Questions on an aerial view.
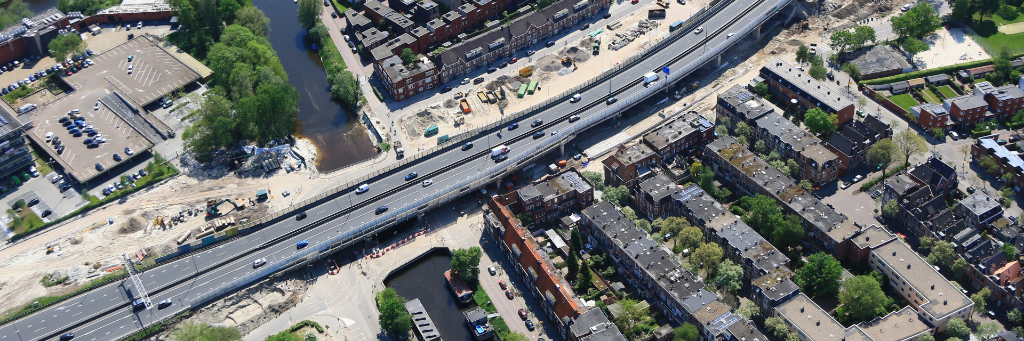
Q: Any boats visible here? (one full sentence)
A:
Yes, the image includes a boat.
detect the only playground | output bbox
[915,27,989,65]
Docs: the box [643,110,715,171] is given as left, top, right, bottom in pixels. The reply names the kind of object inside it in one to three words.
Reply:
building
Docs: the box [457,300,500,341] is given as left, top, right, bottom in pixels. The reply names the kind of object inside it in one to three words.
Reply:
boat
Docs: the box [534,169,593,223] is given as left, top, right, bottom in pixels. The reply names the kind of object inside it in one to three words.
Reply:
building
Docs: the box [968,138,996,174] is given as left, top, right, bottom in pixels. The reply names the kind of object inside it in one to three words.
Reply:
house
